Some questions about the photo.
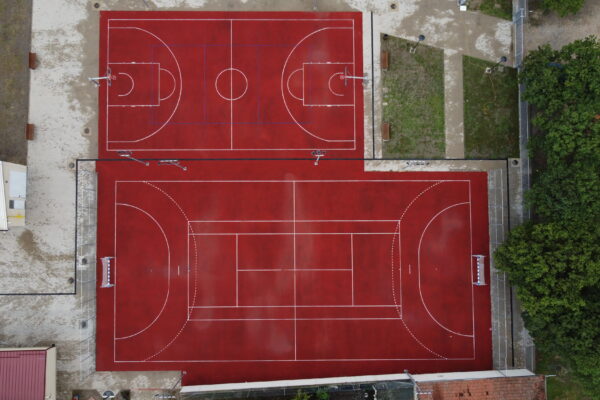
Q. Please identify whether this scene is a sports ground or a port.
sports ground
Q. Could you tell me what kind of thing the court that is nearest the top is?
basketball court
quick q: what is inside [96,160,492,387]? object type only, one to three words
sports court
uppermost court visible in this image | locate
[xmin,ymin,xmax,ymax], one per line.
[98,11,364,159]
